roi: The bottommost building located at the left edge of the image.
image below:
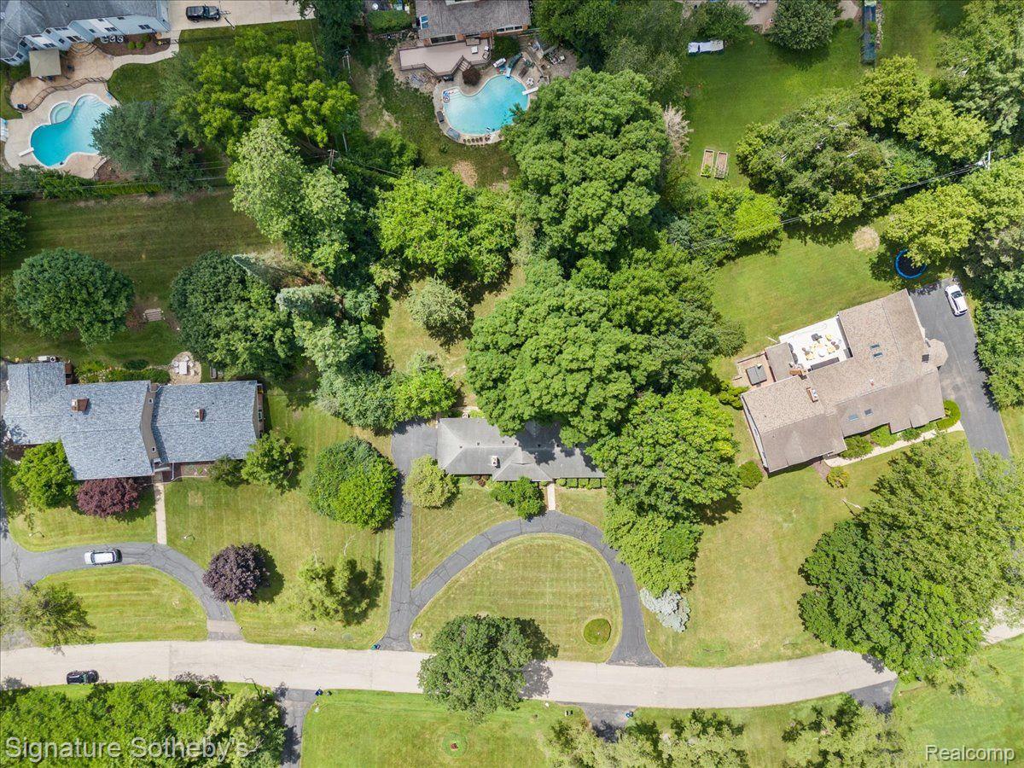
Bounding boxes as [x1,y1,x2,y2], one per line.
[3,360,263,480]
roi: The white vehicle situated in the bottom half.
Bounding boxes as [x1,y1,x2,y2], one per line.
[86,548,123,566]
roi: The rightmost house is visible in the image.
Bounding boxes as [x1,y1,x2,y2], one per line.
[740,289,947,475]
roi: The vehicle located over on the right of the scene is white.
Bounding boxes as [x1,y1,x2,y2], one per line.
[943,282,968,318]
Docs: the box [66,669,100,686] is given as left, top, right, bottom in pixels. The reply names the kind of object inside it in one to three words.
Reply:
car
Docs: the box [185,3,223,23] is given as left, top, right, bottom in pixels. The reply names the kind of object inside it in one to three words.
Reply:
vehicle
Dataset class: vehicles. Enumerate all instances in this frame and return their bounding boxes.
[185,3,223,23]
[86,548,123,566]
[943,282,968,318]
[66,669,100,686]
